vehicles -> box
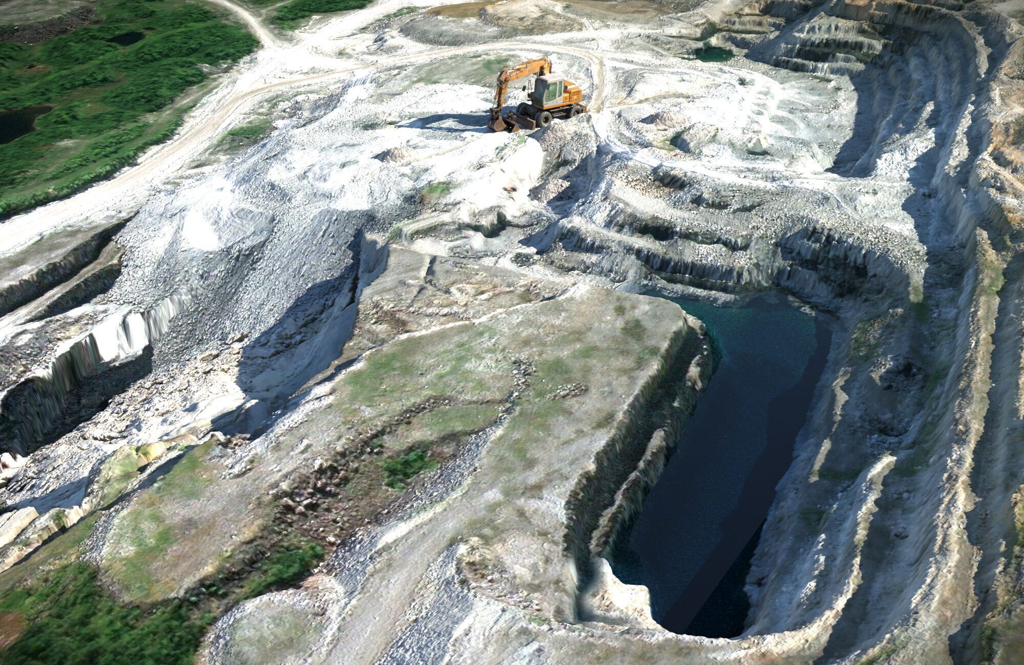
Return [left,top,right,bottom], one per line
[479,56,591,135]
